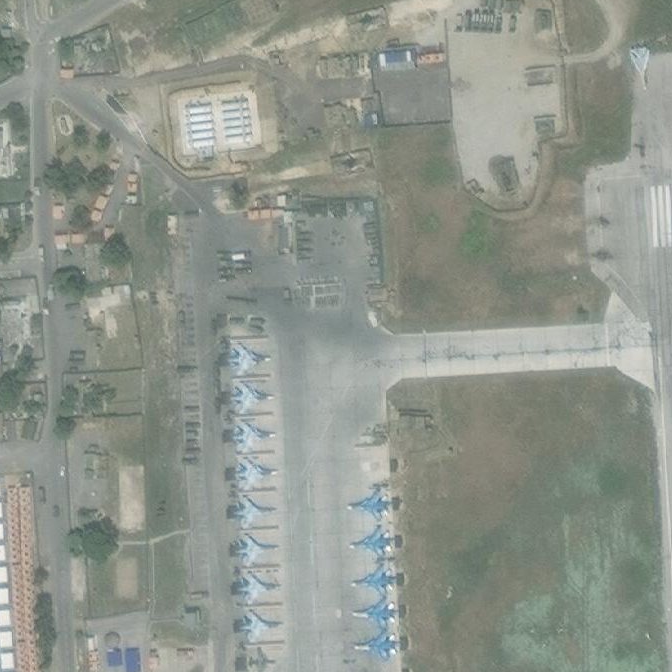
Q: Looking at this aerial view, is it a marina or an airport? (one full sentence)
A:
The picture captures an airport.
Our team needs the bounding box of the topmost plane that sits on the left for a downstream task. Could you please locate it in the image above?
[226,347,272,376]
